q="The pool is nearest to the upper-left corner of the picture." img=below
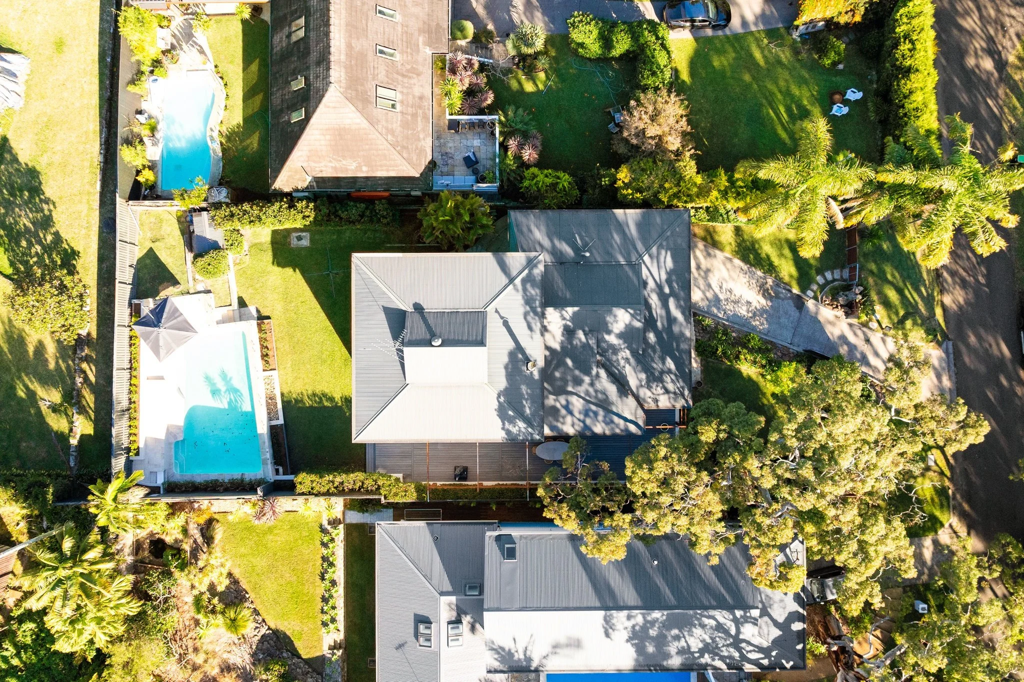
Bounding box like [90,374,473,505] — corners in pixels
[155,65,220,196]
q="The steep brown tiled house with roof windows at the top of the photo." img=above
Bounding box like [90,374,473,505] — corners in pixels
[268,0,451,194]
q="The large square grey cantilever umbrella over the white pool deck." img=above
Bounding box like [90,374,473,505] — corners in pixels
[132,296,199,362]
